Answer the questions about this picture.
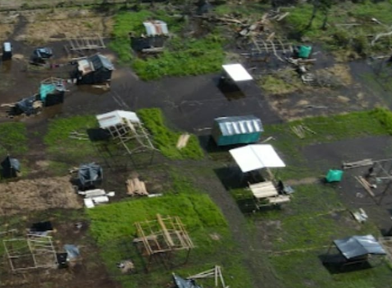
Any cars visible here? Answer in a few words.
No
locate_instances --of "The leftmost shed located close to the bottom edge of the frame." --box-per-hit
[3,236,56,277]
